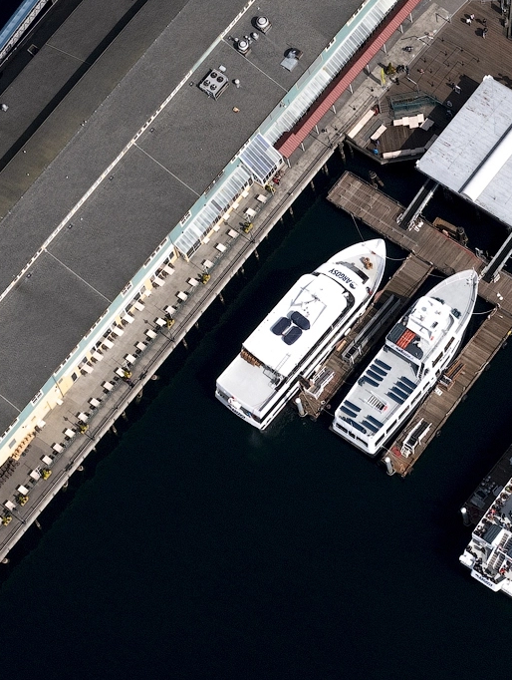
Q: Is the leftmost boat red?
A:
No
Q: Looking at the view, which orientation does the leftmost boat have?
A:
diagonally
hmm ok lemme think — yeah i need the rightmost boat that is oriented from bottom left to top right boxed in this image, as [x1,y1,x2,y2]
[328,268,478,458]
